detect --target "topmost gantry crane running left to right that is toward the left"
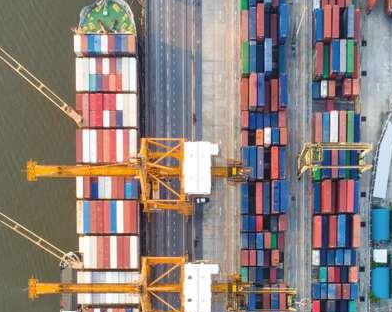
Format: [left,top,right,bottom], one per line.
[18,138,254,219]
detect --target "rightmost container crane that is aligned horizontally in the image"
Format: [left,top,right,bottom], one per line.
[299,141,378,180]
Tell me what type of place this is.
port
